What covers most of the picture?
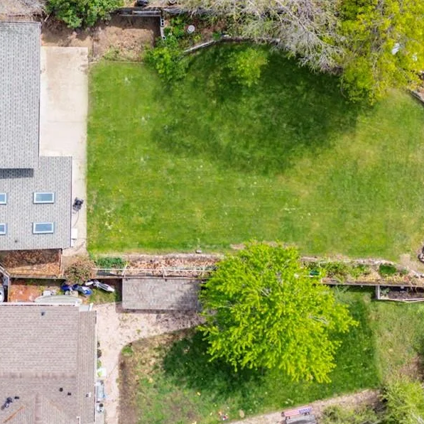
grass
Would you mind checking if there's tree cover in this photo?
Yes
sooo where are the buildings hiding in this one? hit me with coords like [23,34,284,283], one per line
[0,22,74,250]
[0,301,99,424]
[122,274,202,311]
